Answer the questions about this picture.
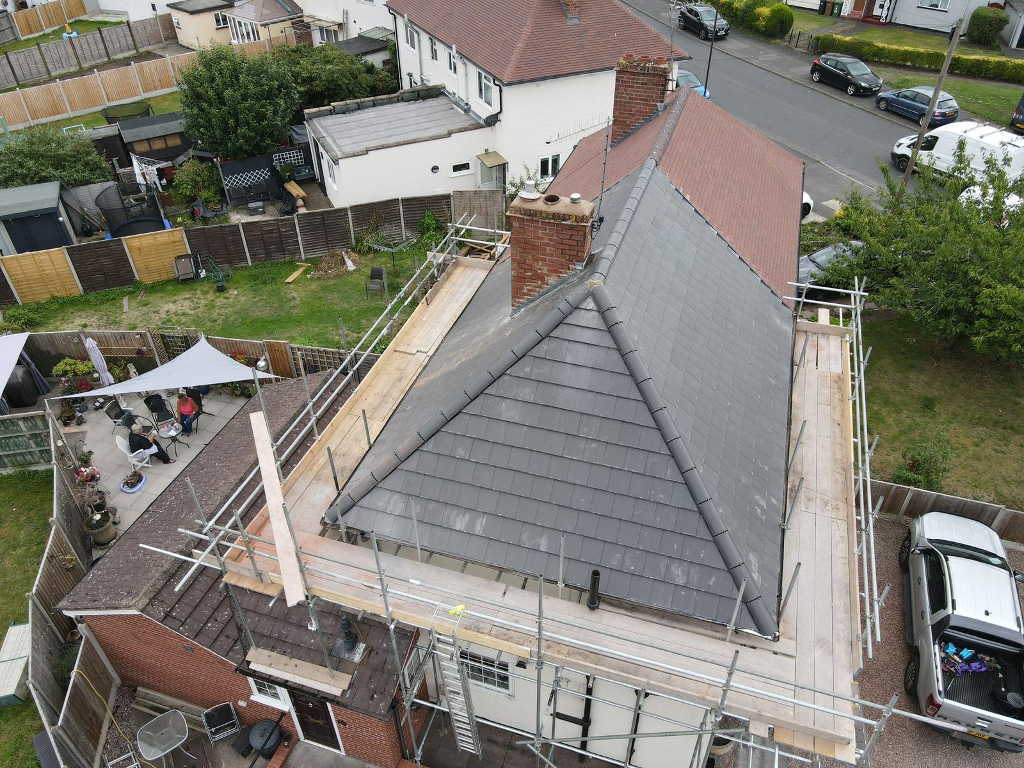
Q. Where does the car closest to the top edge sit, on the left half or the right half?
right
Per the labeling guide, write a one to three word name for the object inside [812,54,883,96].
car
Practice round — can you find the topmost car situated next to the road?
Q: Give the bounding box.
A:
[680,4,726,39]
